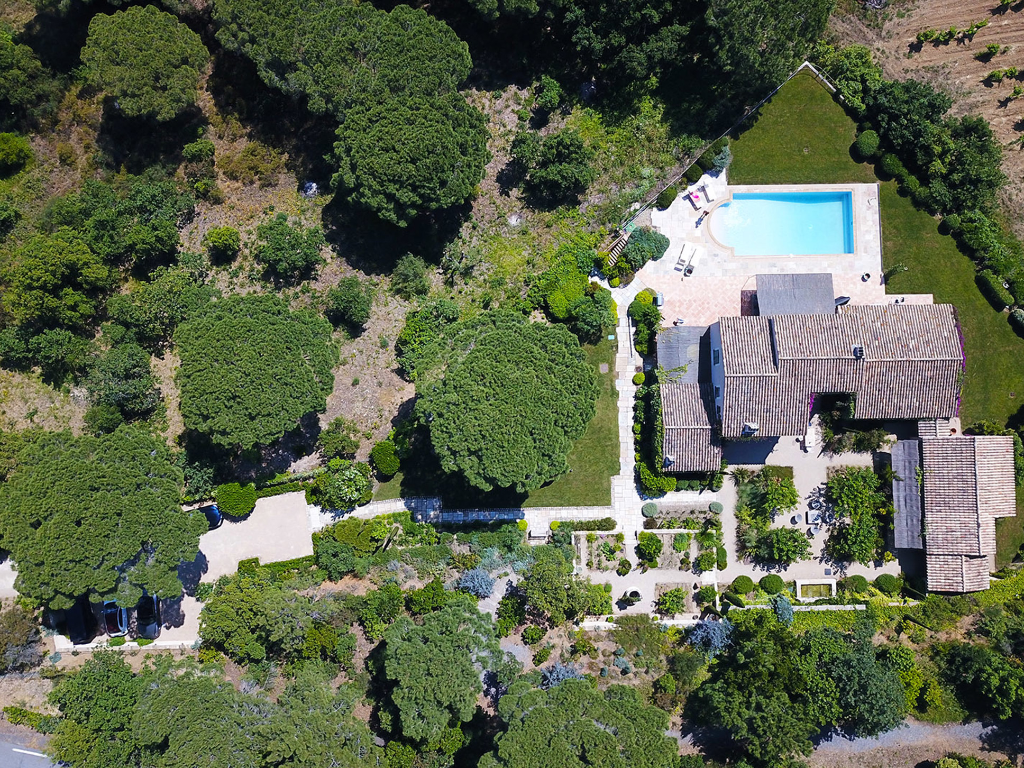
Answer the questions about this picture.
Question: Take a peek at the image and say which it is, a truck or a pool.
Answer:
pool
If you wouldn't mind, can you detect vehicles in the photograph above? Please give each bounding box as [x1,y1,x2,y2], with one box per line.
[100,601,133,642]
[62,585,102,644]
[178,503,223,533]
[134,597,164,641]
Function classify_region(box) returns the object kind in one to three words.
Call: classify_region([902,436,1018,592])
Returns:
shed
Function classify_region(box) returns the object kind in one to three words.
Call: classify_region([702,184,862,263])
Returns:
swimming pool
